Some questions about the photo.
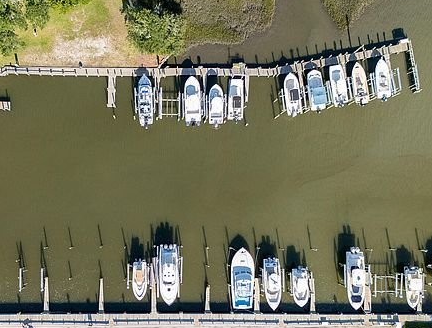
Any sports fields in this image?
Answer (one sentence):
No, no sports field is visible in the view.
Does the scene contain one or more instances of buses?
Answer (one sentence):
No, there is no bus in the image.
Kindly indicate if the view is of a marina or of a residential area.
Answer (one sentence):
It's a marina.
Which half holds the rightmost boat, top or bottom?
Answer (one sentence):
The bottom half of the photo is where the rightmost boat is.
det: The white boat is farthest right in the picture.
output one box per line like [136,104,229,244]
[403,264,425,309]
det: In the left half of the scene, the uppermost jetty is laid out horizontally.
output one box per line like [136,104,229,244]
[0,64,269,80]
